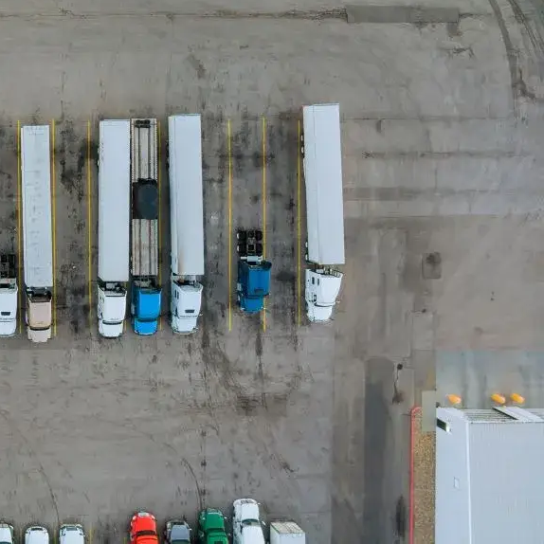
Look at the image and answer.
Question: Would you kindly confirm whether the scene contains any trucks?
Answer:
Yes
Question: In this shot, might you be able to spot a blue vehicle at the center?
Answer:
Yes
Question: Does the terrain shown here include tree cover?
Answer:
No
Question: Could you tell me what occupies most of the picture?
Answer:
paved ground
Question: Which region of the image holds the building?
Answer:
bottom right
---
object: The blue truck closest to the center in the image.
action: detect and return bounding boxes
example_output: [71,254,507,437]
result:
[237,232,271,313]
